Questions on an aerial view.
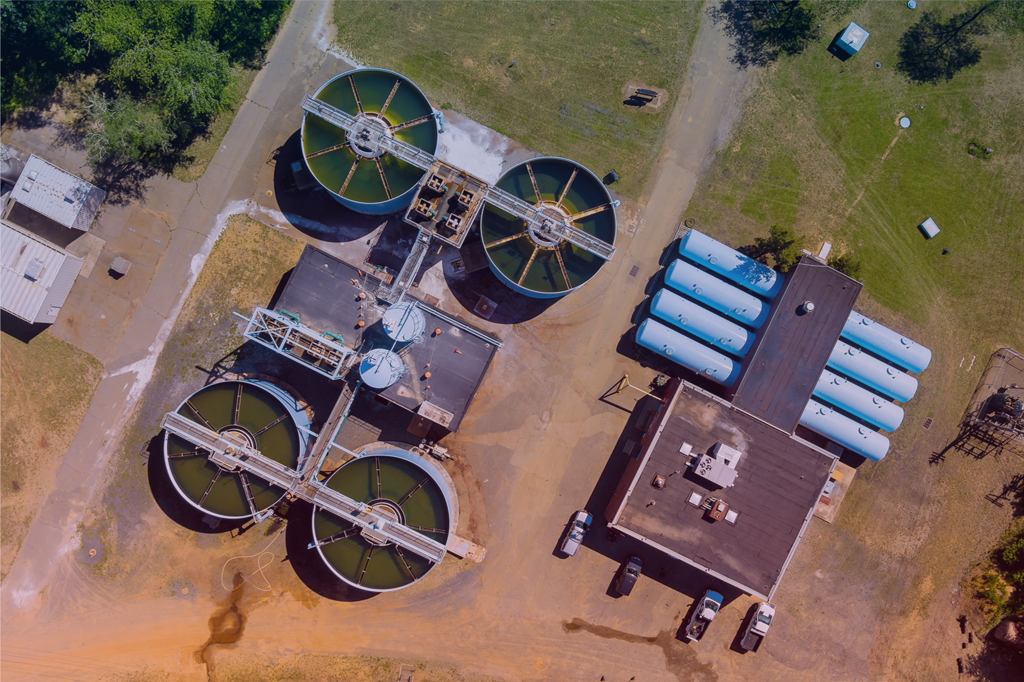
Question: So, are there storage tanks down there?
Yes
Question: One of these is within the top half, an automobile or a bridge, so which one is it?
bridge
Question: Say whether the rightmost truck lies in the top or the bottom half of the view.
bottom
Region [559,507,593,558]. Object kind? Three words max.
truck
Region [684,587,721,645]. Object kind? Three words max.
truck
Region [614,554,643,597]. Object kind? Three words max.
car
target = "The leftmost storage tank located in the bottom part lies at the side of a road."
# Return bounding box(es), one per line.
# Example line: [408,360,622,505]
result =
[156,372,322,523]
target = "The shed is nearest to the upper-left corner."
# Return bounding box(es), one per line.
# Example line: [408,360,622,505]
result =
[9,153,107,230]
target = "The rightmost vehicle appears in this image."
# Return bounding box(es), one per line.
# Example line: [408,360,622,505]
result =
[737,599,778,655]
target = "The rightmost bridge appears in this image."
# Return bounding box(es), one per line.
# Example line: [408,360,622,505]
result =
[484,183,617,260]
